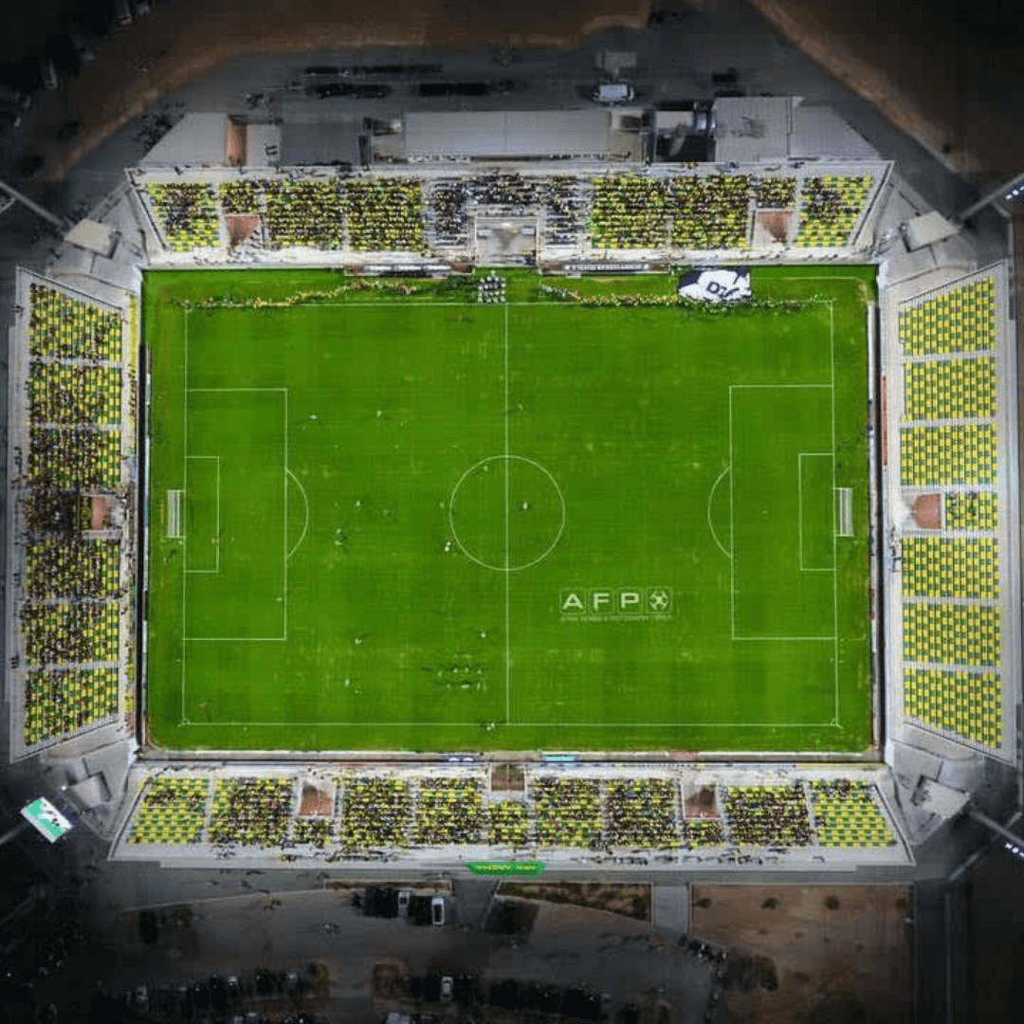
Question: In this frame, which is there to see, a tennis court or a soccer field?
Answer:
soccer field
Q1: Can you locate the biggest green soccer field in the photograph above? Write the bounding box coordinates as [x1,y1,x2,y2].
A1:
[144,268,877,752]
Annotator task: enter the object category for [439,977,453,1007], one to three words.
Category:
car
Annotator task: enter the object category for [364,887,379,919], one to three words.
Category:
car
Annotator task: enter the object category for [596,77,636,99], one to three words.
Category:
vehicle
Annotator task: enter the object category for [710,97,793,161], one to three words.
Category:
building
